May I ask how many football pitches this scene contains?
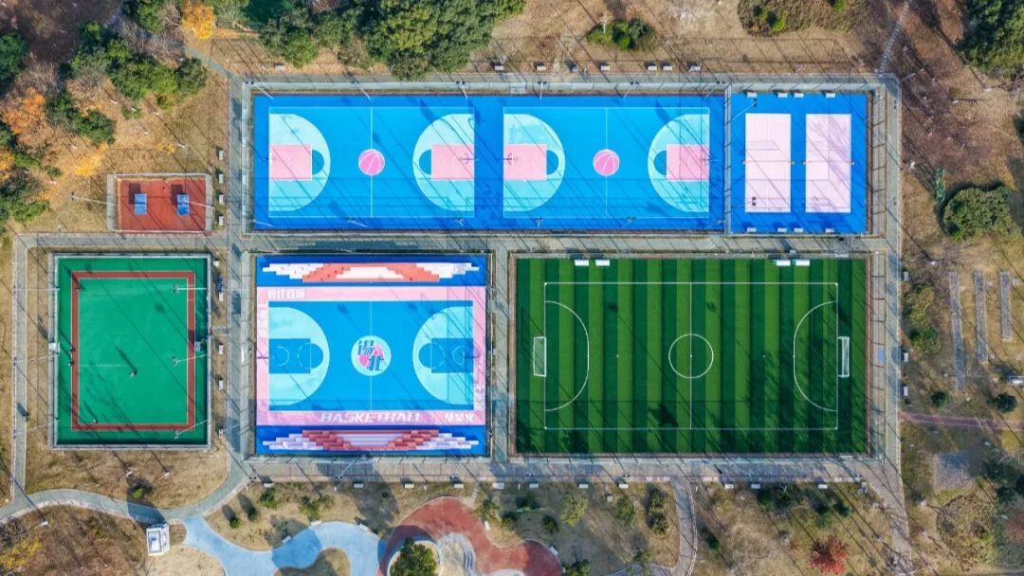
one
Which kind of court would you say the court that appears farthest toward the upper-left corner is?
tennis court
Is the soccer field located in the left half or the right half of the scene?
right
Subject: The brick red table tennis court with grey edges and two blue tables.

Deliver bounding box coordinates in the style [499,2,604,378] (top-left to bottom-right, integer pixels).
[106,174,213,232]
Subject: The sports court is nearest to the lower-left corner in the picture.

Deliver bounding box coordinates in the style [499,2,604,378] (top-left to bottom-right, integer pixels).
[50,254,210,448]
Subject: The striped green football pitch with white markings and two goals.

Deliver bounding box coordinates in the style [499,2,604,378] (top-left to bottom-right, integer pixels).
[517,259,867,454]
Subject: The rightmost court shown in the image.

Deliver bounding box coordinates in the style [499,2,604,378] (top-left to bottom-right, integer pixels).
[799,93,867,231]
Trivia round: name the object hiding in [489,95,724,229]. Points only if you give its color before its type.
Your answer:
blue basketball court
